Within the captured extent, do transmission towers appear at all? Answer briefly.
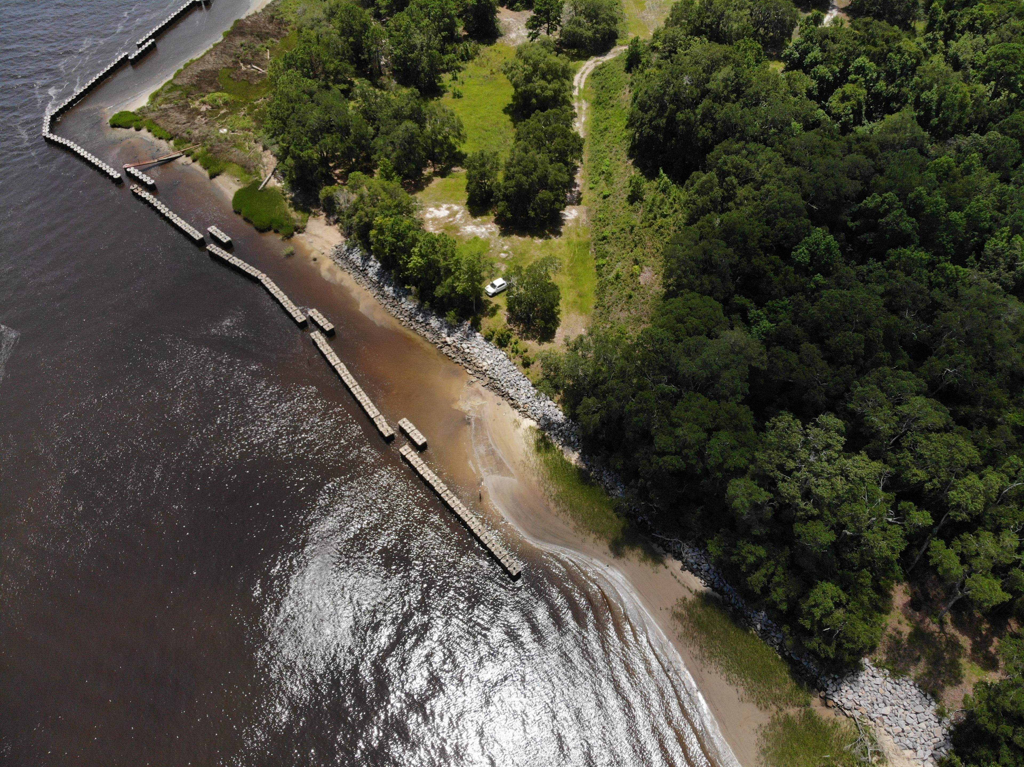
No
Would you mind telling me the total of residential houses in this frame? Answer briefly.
0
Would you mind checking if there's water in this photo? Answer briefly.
Yes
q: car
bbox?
[487,279,509,295]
